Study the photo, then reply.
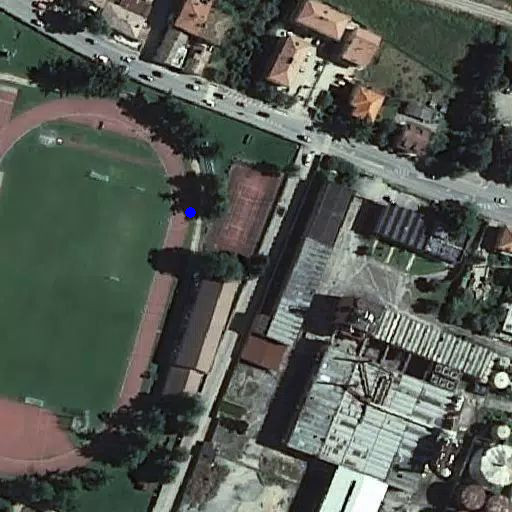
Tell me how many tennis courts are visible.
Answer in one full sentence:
Just 1 tennis court appears in this view.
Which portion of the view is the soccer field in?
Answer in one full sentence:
You can find the soccer field in the left area of the picture.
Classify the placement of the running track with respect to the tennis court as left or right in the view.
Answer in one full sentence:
From the viewer's perspective, the running track falls to the left of the tennis court.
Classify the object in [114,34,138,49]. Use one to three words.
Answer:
vehicle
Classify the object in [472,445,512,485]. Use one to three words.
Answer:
storage tank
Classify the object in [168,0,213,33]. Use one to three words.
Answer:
house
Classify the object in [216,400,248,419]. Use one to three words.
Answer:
shed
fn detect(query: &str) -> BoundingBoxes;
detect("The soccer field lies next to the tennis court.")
[0,114,170,460]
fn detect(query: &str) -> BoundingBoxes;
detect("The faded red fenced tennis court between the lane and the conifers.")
[206,164,285,256]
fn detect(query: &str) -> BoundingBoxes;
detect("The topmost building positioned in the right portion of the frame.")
[294,0,352,42]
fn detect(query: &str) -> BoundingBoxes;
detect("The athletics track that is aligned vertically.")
[0,82,188,479]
